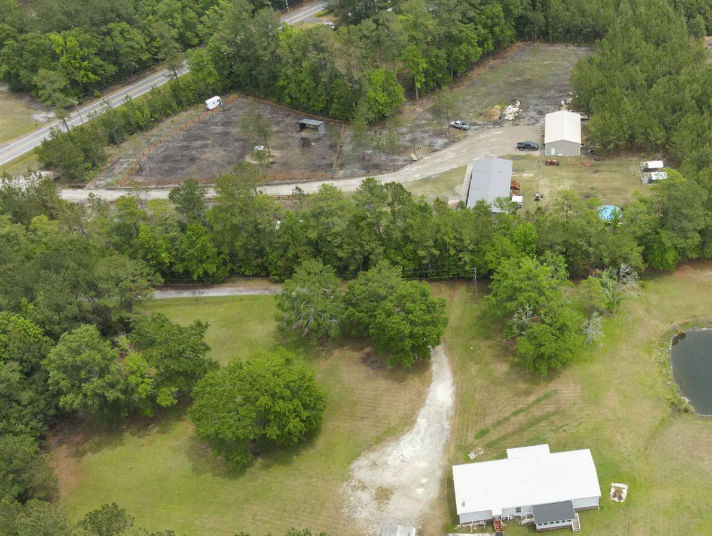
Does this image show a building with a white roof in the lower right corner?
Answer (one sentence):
Yes, I can see a building with a white roof in the lower right corner.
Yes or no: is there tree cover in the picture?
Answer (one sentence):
Yes, tree cover shows up in the scene.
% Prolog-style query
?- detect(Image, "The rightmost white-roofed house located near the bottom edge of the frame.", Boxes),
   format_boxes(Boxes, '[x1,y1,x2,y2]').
[453,444,602,533]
